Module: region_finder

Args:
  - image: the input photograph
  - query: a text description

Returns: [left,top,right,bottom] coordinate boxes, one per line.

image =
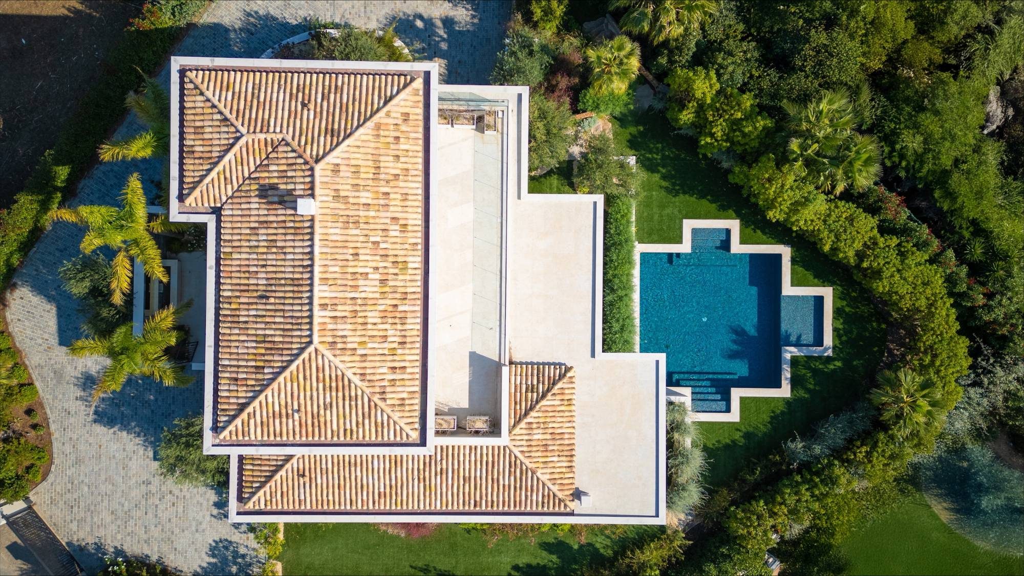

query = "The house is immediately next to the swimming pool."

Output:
[170,57,666,525]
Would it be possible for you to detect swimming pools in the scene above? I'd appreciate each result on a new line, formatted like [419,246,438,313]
[635,219,832,422]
